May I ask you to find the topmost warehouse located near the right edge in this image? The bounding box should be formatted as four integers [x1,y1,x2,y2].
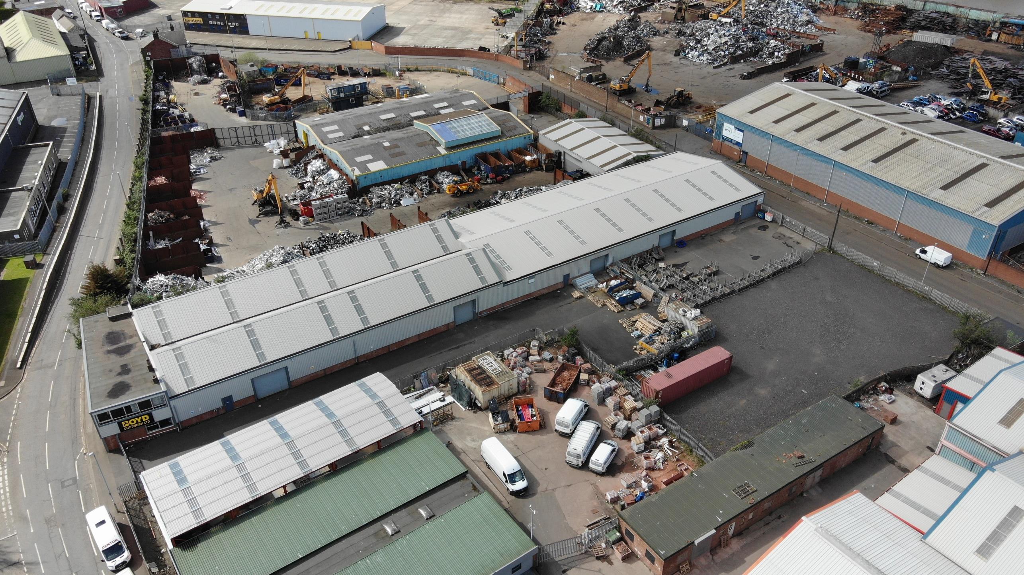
[712,81,1024,270]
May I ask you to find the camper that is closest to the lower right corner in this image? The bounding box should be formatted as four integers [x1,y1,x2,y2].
[917,360,964,400]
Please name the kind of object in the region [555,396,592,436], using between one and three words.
van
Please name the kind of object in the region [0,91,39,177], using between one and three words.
building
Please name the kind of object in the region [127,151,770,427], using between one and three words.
shed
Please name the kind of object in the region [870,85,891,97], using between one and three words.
vehicle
